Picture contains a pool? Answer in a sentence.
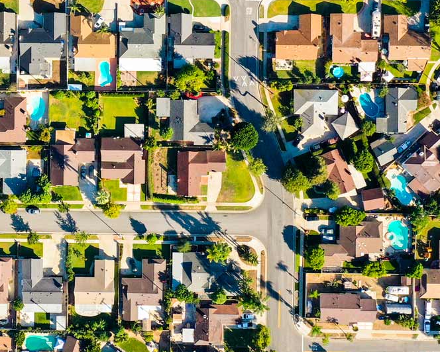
Yes, this view includes a pool.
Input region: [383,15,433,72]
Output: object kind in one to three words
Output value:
house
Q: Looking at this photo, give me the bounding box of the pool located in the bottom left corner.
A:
[24,335,55,352]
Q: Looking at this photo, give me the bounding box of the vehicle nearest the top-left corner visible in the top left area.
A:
[93,14,106,31]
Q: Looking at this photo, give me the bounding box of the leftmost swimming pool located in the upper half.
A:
[31,96,47,122]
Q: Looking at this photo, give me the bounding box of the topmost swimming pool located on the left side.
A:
[98,60,113,86]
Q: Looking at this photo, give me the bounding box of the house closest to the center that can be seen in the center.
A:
[178,150,227,196]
